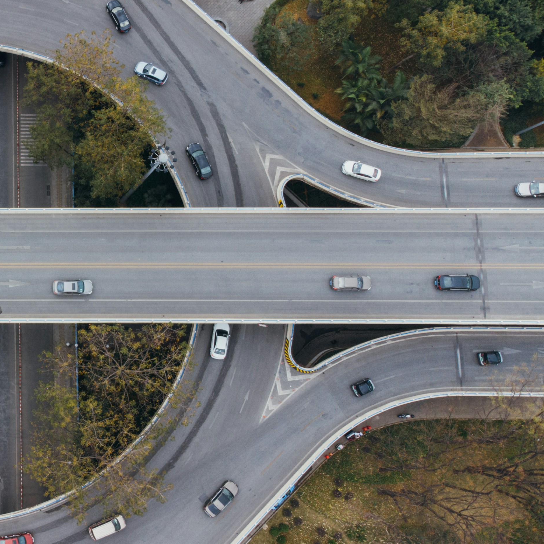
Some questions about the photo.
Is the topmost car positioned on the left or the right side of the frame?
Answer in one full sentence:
It is on the left.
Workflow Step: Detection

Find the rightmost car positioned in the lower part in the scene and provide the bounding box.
[476,349,502,366]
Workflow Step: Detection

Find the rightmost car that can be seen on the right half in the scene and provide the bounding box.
[514,180,544,198]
